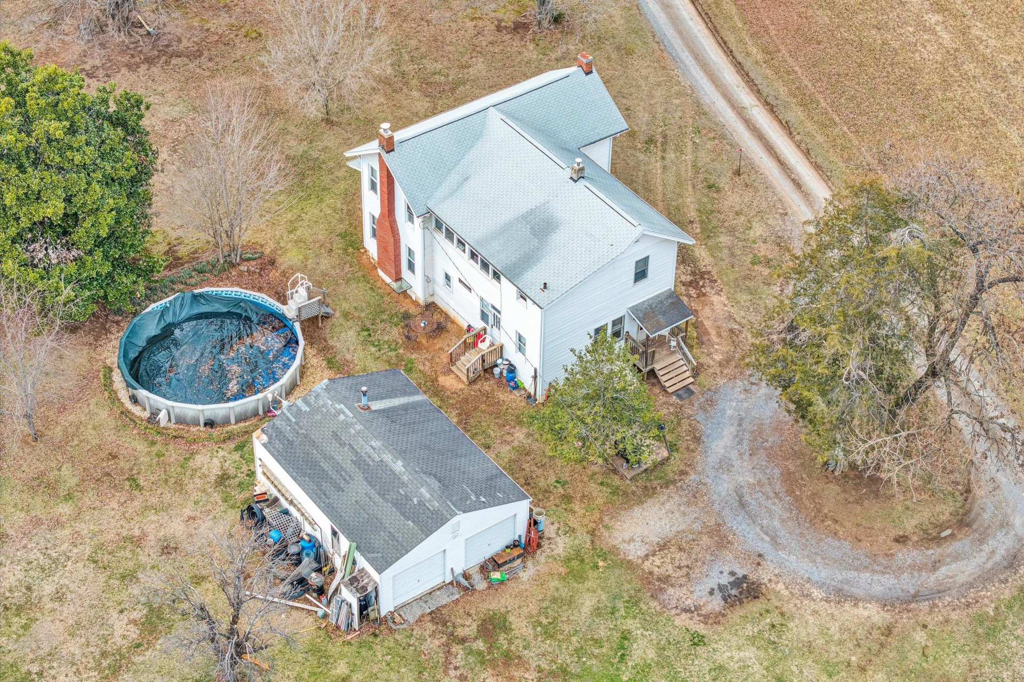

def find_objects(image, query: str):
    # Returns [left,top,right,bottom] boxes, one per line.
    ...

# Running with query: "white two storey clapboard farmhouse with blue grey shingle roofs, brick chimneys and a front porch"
[349,54,699,405]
